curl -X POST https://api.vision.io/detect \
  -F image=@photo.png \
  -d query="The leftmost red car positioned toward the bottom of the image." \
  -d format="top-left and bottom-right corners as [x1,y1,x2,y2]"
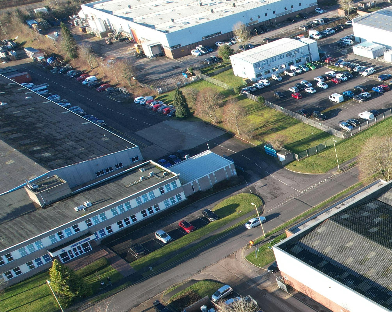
[178,220,195,233]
